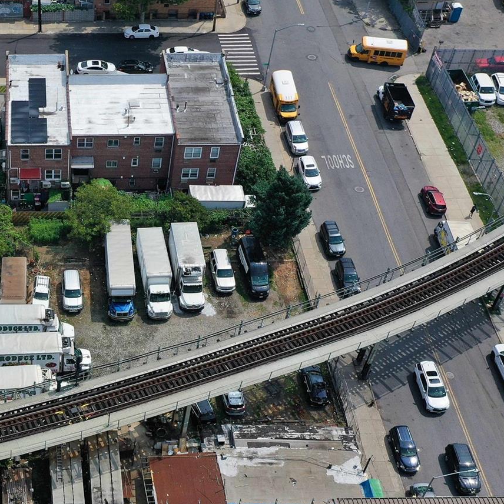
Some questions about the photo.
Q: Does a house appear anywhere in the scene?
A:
Yes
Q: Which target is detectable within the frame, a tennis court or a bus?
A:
bus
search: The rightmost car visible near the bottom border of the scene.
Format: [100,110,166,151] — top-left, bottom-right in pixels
[439,435,488,498]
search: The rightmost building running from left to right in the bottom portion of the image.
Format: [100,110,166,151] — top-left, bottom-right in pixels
[193,425,387,504]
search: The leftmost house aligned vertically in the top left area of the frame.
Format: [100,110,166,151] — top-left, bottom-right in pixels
[7,52,72,199]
